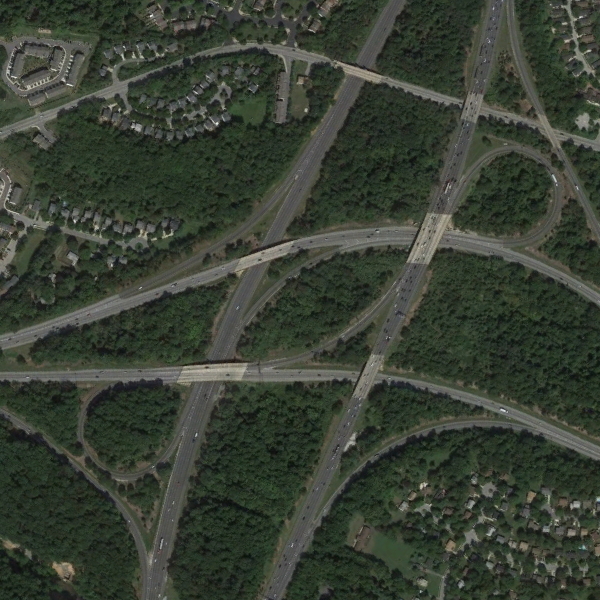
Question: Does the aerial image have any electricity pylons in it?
No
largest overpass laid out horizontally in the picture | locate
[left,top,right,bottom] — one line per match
[177,364,248,383]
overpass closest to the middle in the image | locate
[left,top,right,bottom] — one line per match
[235,238,296,273]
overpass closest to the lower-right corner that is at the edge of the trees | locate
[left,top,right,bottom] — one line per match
[352,354,384,398]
